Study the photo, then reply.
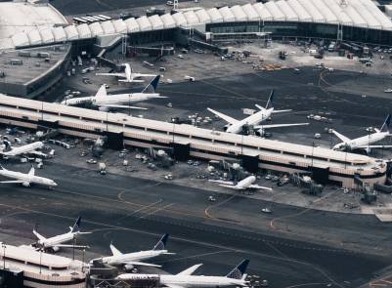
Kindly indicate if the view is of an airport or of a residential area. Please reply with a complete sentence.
This looks like an airport.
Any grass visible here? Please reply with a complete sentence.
No, grass can't be seen anywhere here.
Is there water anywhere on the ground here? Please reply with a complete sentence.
No, the picture contains no water.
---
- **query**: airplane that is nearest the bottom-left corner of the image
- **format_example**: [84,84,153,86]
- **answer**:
[33,216,93,251]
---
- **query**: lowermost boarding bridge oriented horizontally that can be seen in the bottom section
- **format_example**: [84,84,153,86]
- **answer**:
[84,271,165,288]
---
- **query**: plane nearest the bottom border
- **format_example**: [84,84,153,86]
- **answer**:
[117,260,252,288]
